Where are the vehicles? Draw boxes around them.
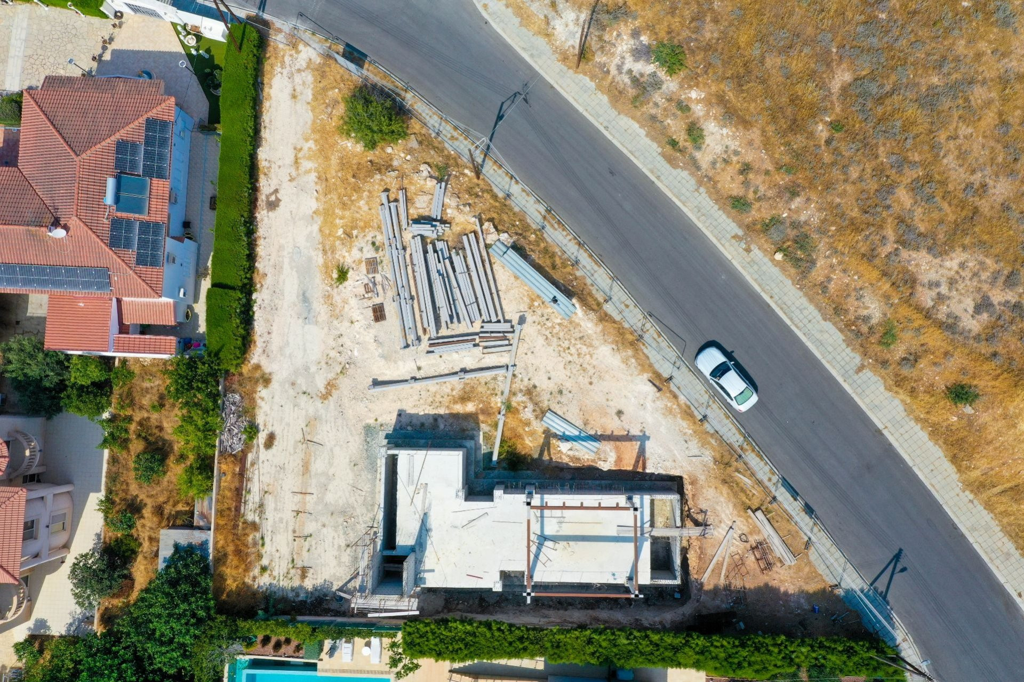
[696,347,759,413]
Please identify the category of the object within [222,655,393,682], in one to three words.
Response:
swimming pool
